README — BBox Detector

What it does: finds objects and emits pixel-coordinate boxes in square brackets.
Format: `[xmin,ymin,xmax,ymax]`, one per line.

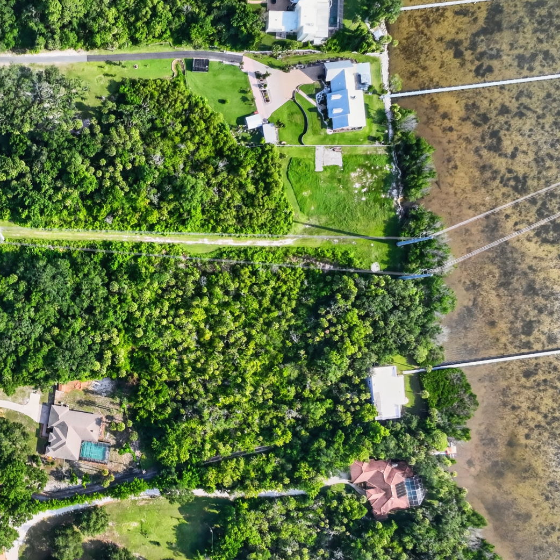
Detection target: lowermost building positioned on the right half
[349,459,414,517]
